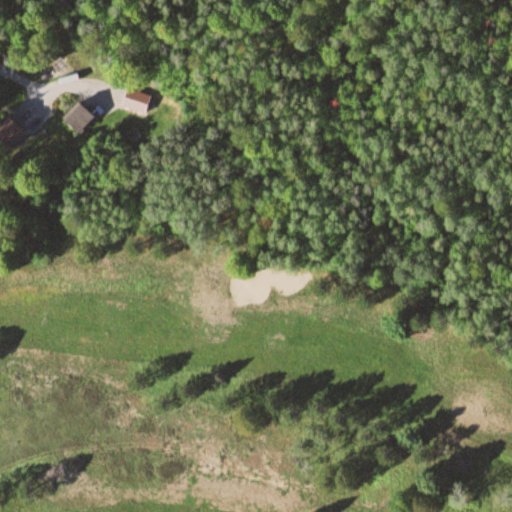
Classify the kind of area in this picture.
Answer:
golf course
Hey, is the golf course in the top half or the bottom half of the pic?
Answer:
bottom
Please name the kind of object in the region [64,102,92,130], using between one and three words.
house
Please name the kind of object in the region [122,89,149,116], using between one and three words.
barn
